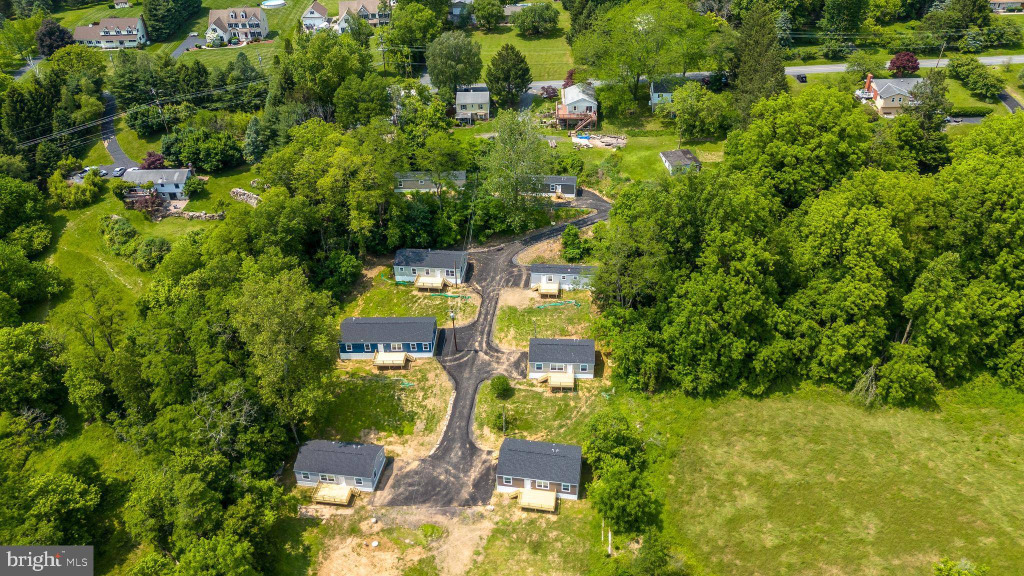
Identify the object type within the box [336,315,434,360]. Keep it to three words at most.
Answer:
house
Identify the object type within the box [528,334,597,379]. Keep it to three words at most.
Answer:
house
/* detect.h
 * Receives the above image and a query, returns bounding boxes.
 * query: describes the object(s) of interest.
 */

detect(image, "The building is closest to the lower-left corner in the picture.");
[293,432,384,492]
